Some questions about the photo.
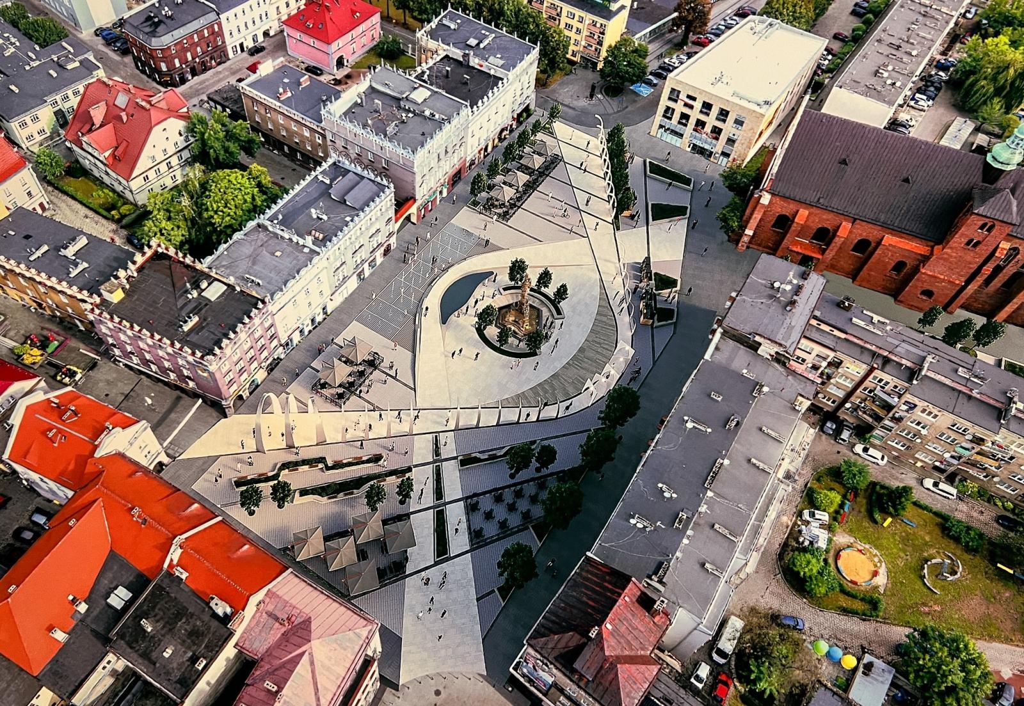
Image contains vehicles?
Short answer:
Yes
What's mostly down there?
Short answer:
buildings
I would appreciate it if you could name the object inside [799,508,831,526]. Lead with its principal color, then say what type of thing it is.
white car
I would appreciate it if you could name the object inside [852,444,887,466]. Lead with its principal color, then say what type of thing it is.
white car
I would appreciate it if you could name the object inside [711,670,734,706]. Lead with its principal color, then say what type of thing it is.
red car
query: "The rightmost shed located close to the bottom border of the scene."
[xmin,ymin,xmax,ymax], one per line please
[839,654,895,706]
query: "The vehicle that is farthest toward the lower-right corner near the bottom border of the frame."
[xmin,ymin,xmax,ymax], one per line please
[990,676,1020,706]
